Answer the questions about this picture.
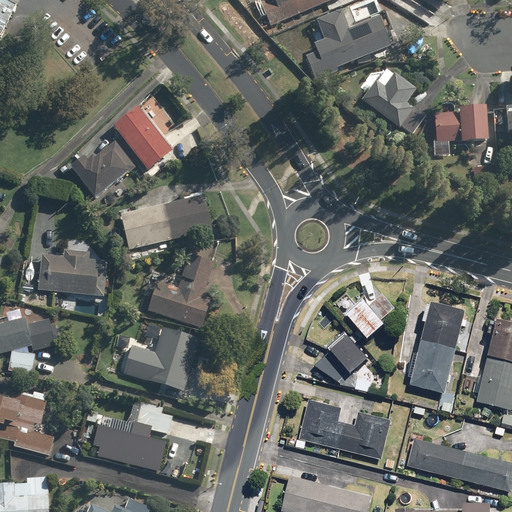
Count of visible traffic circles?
one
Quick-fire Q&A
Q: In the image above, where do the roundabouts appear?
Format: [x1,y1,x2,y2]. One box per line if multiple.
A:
[284,208,340,264]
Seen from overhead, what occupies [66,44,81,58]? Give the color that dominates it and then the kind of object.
white vehicle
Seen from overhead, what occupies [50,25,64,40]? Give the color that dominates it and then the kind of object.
white car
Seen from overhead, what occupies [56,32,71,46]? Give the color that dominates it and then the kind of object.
white vehicle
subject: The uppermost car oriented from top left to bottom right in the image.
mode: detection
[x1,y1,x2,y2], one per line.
[200,28,213,43]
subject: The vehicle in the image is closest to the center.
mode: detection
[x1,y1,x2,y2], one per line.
[296,284,308,300]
